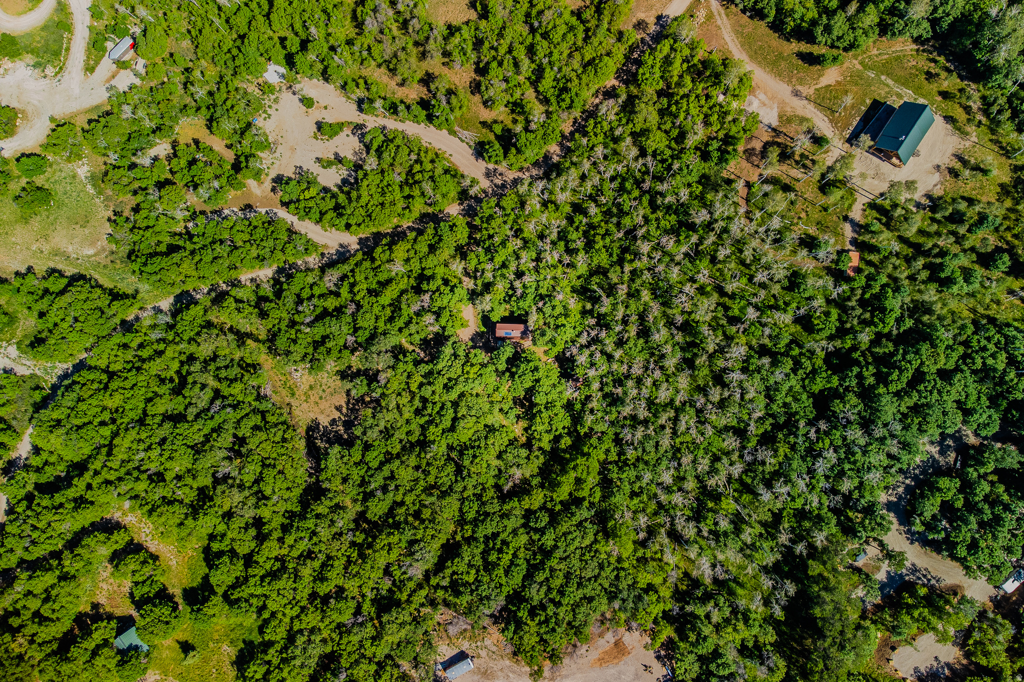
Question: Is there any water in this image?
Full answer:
No, the picture contains no water.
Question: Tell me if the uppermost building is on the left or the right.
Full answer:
The uppermost building appears in the right half of the scene.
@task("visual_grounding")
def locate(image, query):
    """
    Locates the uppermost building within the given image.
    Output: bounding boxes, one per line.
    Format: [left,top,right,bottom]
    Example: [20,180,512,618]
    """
[866,99,935,174]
